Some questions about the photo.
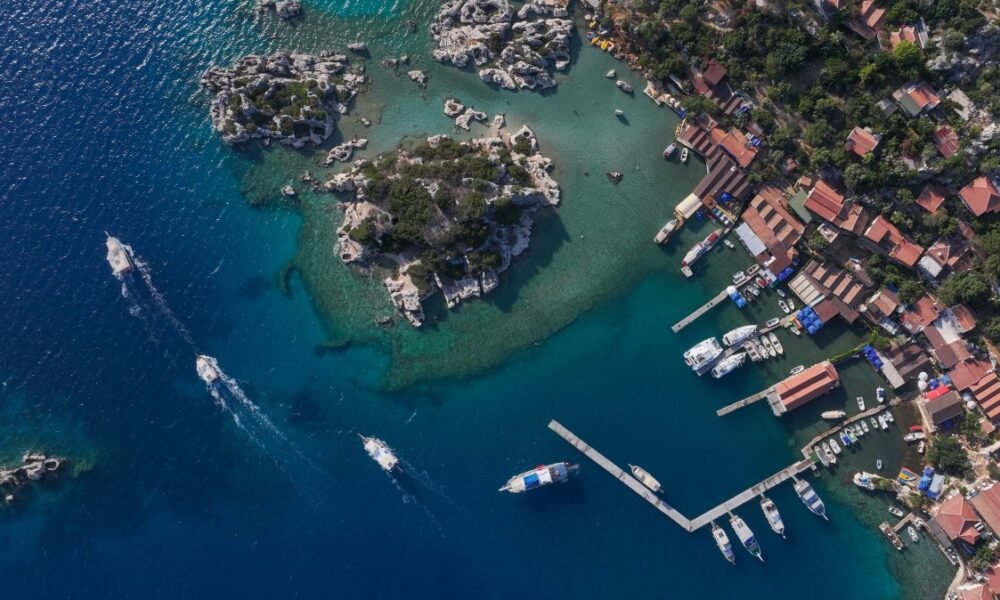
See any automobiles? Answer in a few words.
No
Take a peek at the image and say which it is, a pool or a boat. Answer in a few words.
boat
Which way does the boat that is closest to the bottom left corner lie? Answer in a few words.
at an angle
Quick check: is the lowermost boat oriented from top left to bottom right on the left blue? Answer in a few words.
No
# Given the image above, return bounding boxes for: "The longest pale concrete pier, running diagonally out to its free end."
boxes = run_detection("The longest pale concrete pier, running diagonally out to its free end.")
[549,419,689,529]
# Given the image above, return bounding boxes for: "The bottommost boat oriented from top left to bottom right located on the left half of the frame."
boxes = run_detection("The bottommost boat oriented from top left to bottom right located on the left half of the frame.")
[356,433,401,475]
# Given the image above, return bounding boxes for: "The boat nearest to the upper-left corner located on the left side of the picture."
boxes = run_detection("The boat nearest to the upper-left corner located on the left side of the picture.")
[106,236,135,278]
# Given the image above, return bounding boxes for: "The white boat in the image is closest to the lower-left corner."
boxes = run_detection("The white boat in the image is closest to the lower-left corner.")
[197,355,224,388]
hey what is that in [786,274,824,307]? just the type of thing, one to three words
building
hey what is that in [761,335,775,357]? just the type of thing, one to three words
boat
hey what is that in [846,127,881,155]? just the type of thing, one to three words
house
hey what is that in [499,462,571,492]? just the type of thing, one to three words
boat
